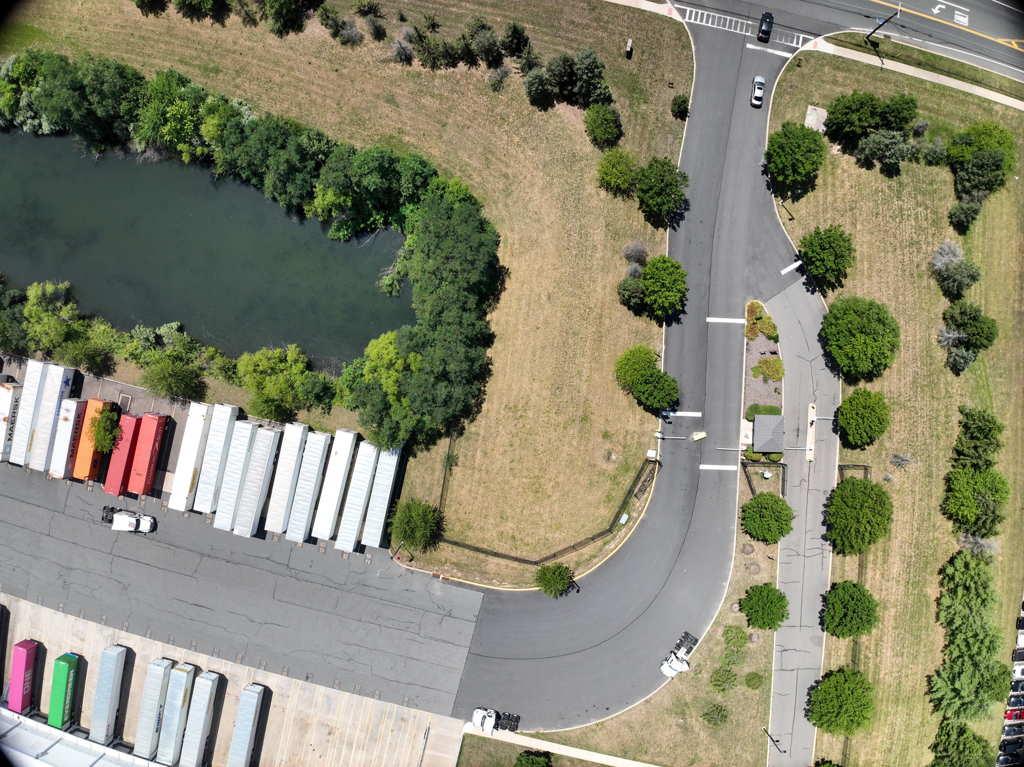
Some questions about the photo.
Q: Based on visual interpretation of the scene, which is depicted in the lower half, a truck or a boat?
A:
truck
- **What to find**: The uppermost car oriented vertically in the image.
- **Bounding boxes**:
[756,12,775,45]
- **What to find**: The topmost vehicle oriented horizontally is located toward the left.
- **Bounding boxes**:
[101,504,158,533]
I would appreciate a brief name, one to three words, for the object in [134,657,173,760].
trailer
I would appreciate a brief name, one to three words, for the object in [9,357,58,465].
trailer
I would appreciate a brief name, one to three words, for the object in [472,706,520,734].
truck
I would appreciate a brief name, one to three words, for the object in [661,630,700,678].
truck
